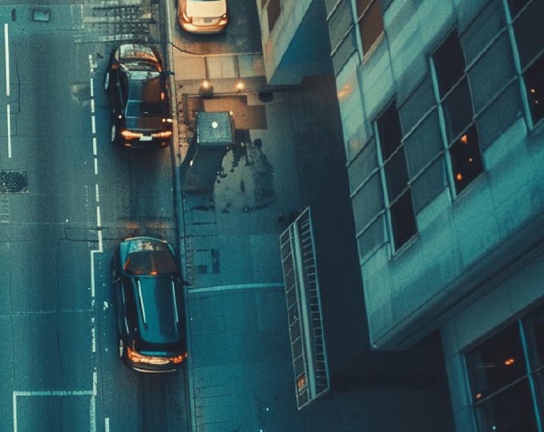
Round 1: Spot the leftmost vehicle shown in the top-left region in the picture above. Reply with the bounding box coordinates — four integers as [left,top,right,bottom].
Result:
[102,41,175,149]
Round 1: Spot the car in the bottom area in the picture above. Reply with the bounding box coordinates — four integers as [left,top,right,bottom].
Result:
[113,237,190,375]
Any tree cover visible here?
No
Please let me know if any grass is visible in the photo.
No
